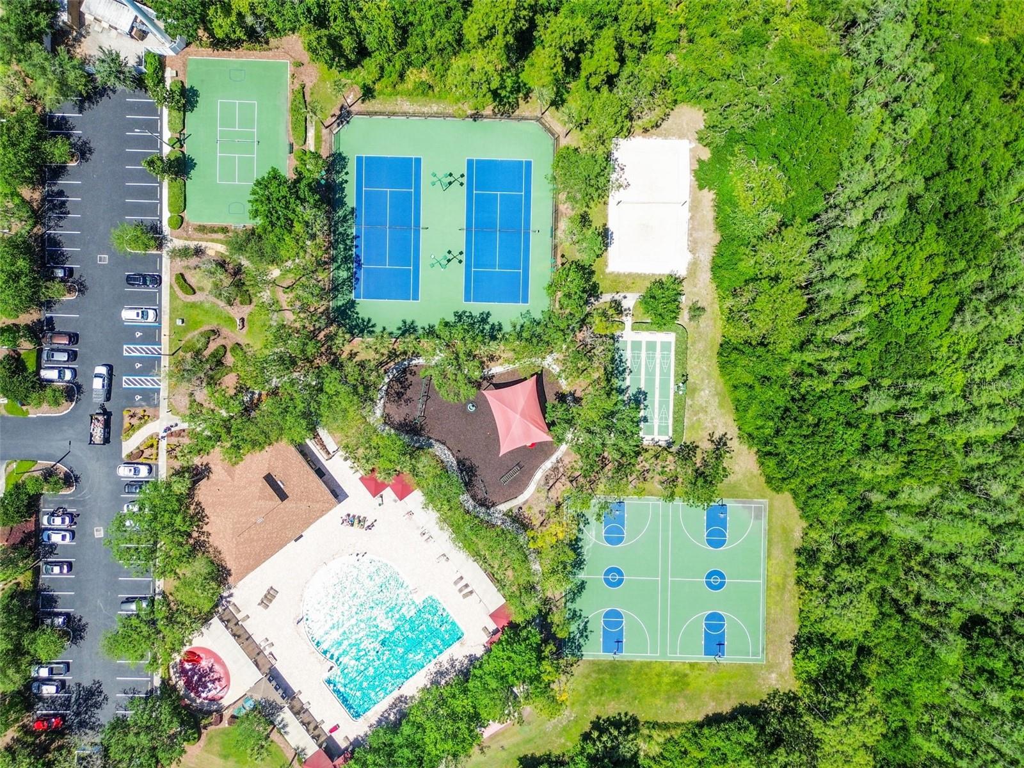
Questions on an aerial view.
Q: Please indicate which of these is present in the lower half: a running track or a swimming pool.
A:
swimming pool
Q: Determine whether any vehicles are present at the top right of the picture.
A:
No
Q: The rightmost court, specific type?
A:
basketball court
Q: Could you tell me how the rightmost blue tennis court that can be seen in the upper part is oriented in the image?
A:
from top to bottom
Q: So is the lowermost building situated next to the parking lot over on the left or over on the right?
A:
left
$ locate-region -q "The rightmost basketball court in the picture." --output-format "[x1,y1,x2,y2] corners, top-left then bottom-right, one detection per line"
[668,503,764,658]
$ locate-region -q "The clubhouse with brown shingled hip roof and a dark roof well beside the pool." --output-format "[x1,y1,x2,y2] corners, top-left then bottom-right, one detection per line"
[192,429,339,584]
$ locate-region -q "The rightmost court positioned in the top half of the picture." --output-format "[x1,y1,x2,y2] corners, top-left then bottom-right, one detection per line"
[608,139,688,275]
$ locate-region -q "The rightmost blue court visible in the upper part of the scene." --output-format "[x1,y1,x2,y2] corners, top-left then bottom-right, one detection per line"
[459,158,535,304]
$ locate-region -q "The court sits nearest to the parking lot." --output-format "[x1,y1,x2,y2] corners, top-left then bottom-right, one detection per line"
[186,57,289,225]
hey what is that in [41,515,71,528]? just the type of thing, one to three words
vehicle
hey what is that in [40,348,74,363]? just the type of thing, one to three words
car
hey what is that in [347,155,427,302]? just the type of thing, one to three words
tennis court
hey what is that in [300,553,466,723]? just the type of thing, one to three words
swimming pool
